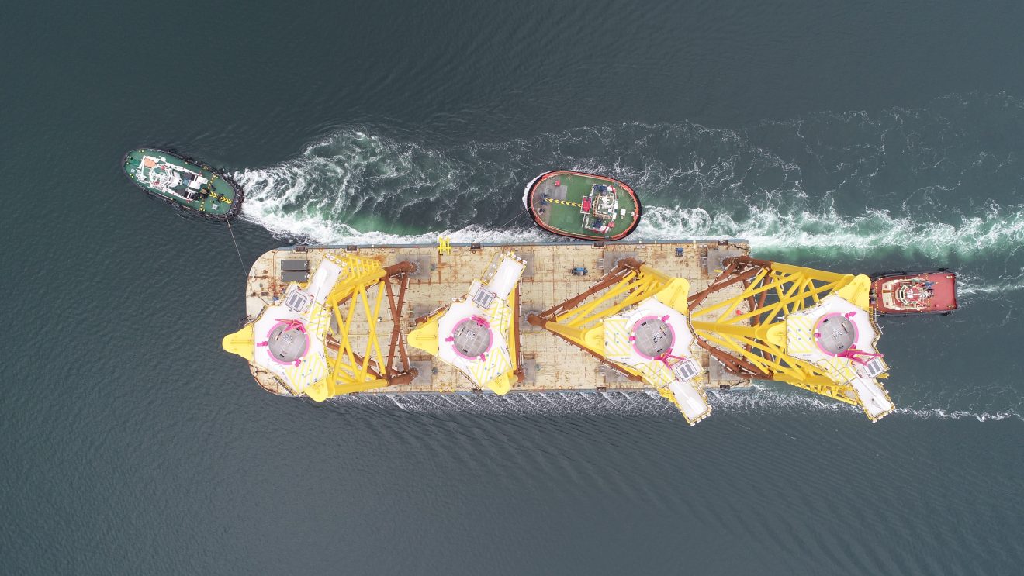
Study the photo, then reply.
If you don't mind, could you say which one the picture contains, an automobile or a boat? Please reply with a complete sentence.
The one in the frame is a boat.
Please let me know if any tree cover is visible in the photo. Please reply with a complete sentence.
No, no tree cover is visible.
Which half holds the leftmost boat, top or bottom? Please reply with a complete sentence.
The top half of the photo is where the leftmost boat is.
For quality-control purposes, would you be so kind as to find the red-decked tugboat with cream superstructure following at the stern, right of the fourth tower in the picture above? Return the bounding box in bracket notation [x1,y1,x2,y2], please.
[865,269,959,317]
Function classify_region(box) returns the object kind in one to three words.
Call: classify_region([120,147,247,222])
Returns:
boat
